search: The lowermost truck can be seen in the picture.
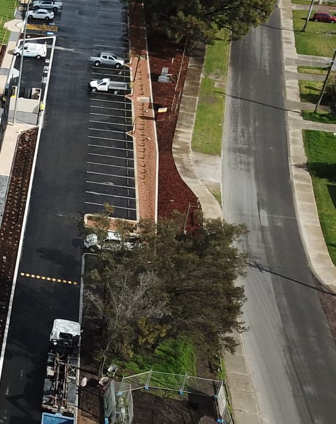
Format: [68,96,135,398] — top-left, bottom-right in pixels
[41,325,83,417]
